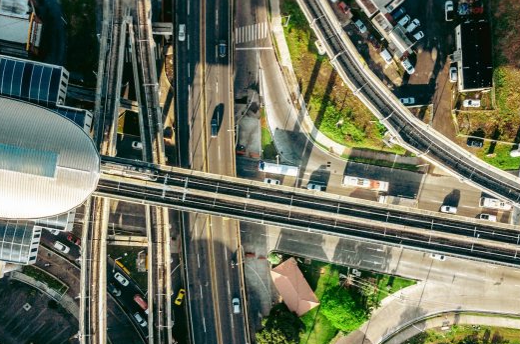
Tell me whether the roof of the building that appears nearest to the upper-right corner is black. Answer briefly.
Yes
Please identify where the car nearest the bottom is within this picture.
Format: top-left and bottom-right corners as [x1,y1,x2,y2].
[133,313,146,328]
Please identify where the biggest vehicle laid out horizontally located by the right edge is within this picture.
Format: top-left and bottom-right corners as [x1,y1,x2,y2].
[482,197,515,209]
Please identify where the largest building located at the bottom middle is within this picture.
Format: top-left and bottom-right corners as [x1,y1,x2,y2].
[272,258,320,316]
